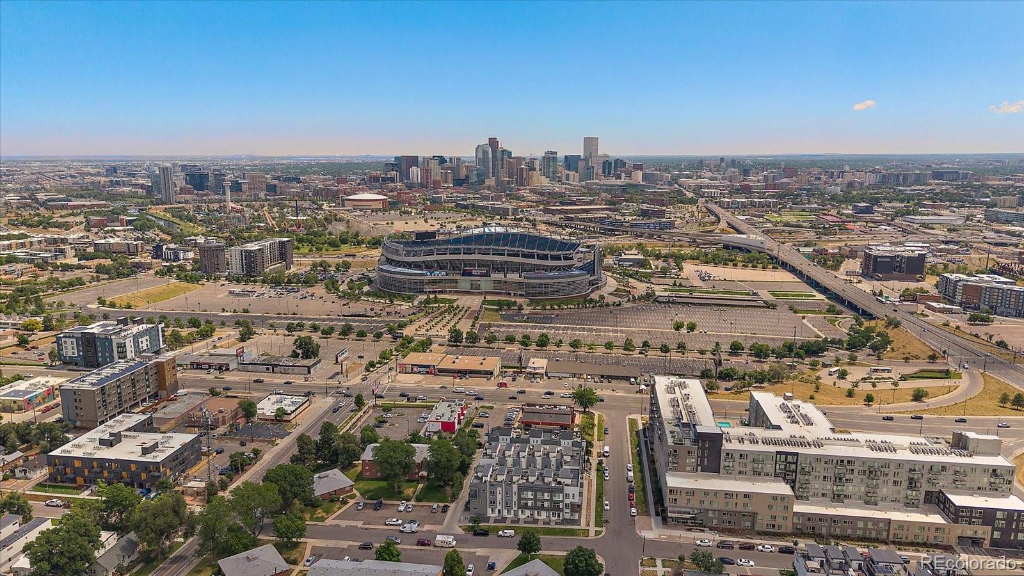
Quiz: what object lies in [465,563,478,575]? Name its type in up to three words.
vehicle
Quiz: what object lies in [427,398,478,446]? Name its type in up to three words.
building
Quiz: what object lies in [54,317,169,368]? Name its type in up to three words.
building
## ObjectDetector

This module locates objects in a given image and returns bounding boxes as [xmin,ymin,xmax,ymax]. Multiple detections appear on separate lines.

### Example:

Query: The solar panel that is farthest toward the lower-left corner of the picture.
[63,367,135,388]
